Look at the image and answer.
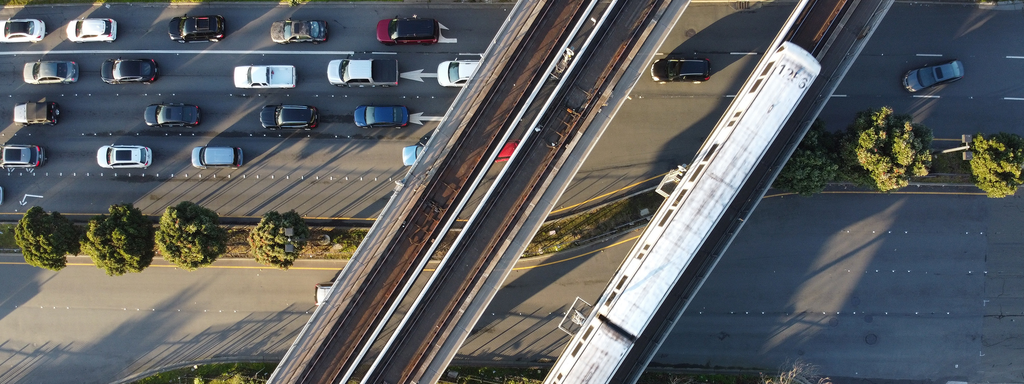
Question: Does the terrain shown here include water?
No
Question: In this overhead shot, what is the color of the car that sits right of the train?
blue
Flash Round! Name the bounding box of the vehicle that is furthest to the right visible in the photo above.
[902,60,965,94]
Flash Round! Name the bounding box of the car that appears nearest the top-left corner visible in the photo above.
[0,16,49,43]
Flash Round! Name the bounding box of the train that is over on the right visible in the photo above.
[549,43,819,384]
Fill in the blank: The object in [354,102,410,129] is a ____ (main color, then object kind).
blue car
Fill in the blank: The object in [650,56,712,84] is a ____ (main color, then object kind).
black car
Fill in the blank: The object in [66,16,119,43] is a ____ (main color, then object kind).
white car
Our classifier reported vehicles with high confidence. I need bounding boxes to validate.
[271,17,329,45]
[101,57,161,84]
[24,58,81,85]
[97,142,154,170]
[327,57,401,86]
[0,142,47,169]
[168,13,227,42]
[650,56,712,84]
[260,102,320,130]
[14,99,63,126]
[402,142,423,166]
[902,60,965,94]
[437,58,478,86]
[234,62,298,89]
[192,143,244,170]
[144,101,202,128]
[0,16,49,43]
[354,102,410,129]
[66,16,119,43]
[377,16,440,45]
